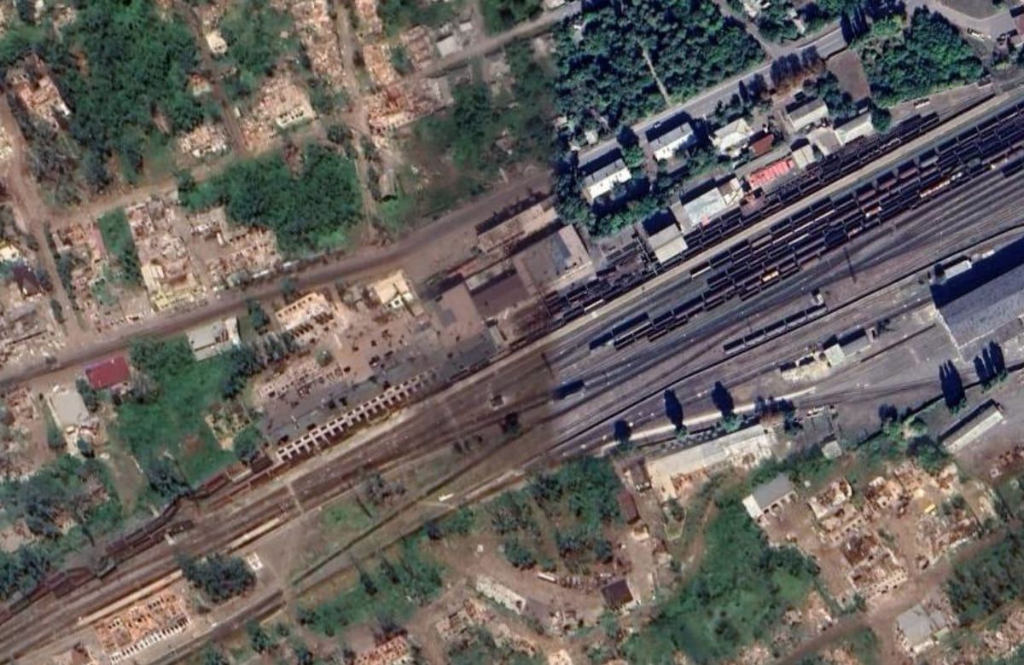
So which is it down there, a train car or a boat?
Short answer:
train car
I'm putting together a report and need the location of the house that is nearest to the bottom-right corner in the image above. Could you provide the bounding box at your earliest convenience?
[973,599,1024,658]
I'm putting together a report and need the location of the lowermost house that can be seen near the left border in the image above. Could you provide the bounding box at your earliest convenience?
[50,637,100,665]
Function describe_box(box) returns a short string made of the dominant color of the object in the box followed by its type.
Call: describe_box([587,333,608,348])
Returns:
black rail car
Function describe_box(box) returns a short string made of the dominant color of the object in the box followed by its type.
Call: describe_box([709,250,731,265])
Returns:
black rail car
